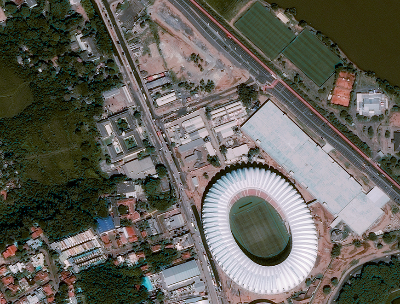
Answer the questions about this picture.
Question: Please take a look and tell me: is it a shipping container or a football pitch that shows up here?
football pitch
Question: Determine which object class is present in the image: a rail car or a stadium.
stadium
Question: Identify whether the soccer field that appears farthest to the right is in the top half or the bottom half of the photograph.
top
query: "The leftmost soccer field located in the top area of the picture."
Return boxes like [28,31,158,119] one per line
[233,1,296,57]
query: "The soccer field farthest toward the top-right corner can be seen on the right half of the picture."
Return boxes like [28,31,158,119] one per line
[280,27,343,86]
